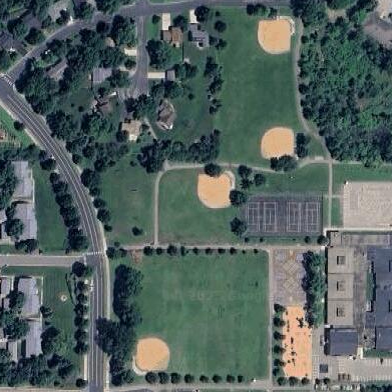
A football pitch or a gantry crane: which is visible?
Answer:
football pitch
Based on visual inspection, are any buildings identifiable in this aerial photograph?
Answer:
Yes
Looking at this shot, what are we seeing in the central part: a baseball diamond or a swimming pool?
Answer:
baseball diamond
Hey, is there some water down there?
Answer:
No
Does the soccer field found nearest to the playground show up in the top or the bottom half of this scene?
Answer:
bottom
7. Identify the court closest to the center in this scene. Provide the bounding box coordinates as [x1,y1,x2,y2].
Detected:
[242,190,324,237]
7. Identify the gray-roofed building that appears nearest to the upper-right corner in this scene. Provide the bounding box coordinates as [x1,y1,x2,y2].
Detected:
[189,25,210,50]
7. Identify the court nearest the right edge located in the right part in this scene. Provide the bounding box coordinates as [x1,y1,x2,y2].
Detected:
[343,182,392,227]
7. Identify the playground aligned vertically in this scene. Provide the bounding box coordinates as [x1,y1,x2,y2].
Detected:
[283,307,313,377]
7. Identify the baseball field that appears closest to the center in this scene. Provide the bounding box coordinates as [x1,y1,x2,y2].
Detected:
[197,171,235,208]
